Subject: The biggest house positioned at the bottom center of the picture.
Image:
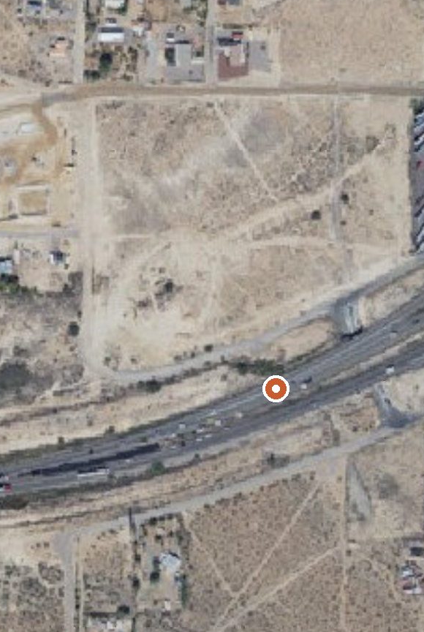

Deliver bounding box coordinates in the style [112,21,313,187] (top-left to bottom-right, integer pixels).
[157,552,182,574]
